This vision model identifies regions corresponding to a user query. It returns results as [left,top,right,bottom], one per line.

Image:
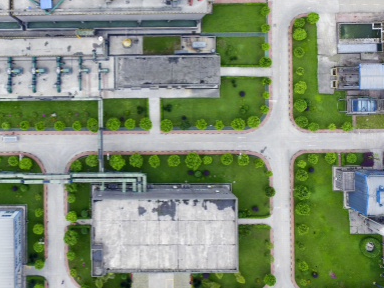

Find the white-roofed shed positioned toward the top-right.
[351,63,384,90]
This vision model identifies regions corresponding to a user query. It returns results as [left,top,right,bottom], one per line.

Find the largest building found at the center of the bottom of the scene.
[92,191,239,273]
